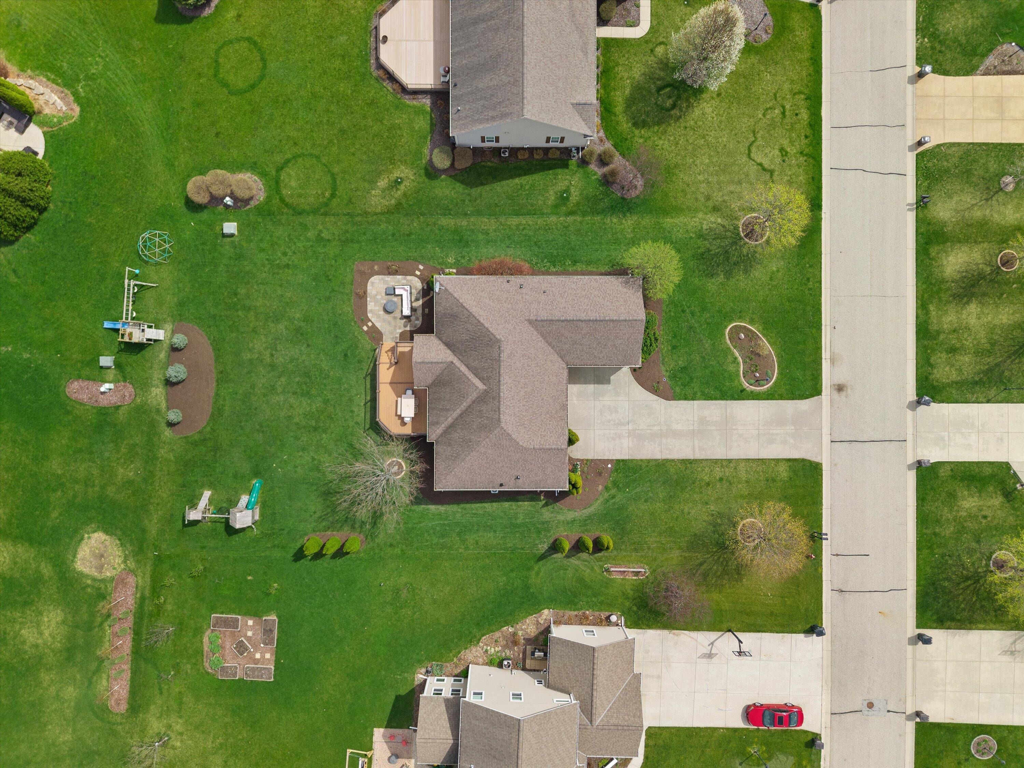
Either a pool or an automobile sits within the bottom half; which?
automobile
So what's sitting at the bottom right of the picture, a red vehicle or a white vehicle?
red vehicle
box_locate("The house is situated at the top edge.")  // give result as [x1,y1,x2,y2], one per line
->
[448,0,601,158]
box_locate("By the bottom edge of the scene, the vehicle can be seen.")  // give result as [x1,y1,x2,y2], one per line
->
[744,701,803,731]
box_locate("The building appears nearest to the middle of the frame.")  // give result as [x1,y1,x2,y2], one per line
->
[411,273,649,497]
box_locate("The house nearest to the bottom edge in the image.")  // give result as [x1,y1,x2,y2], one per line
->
[409,610,647,768]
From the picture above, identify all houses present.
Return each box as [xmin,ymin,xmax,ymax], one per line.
[409,610,647,768]
[411,273,649,497]
[448,0,601,158]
